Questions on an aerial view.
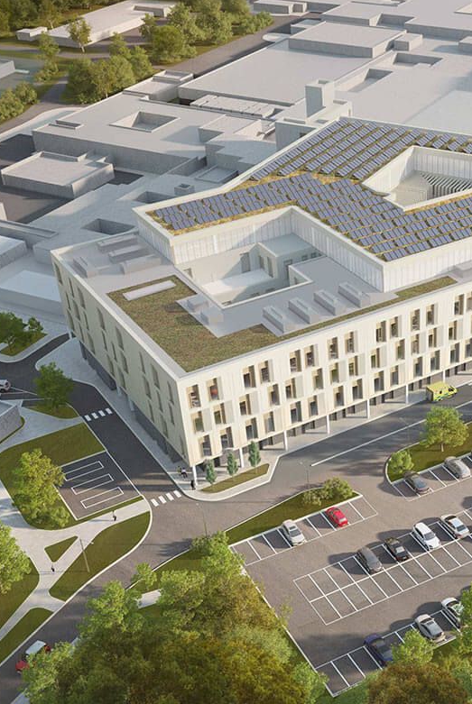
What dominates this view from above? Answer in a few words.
buildings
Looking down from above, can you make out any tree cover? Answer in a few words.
Yes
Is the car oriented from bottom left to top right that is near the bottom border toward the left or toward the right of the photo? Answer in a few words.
left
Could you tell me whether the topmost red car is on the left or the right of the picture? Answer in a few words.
right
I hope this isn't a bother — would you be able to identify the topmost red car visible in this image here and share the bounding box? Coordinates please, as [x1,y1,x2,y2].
[326,506,347,529]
